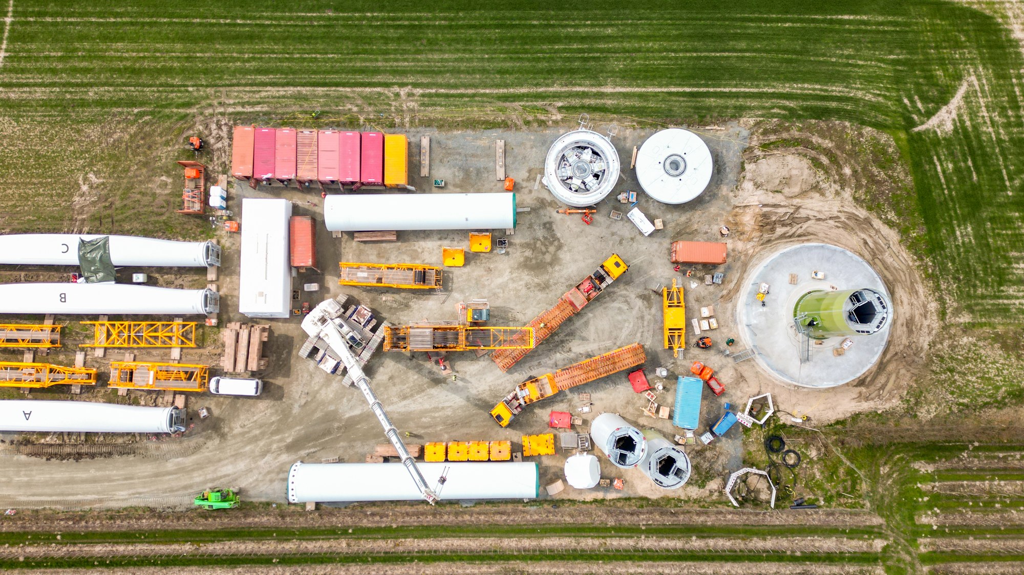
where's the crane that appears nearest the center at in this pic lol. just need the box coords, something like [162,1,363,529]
[383,299,535,370]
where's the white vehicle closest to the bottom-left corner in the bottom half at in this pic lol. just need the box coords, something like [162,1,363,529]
[211,376,265,398]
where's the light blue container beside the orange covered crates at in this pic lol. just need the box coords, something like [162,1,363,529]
[672,375,703,430]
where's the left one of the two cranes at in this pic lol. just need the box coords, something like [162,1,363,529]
[301,296,444,511]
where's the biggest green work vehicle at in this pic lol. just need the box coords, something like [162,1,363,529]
[193,487,241,510]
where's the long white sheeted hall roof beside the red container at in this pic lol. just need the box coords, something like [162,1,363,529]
[239,198,292,318]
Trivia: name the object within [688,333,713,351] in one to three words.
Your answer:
work vehicle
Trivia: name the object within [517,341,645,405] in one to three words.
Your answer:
trailer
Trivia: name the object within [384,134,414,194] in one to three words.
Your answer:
shipping container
